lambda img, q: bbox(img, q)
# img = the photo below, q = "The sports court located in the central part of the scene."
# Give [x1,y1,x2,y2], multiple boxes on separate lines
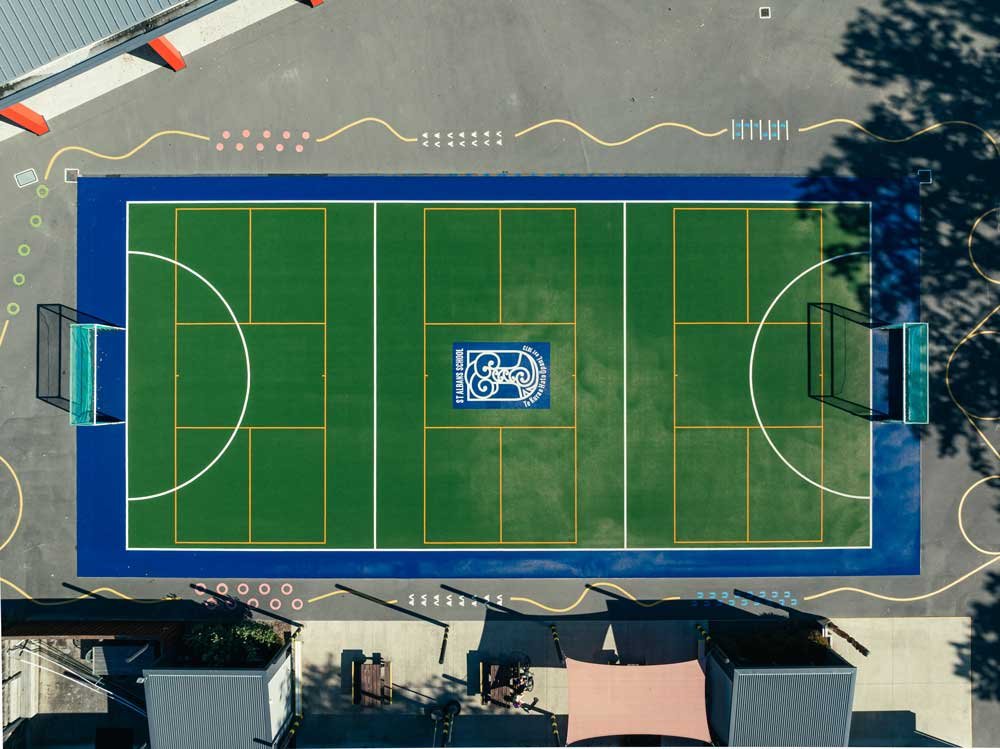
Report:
[76,177,920,576]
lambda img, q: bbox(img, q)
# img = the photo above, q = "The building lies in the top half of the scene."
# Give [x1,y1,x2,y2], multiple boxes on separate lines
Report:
[0,0,243,135]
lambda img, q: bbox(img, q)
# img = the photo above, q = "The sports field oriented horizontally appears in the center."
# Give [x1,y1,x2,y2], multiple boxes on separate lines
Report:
[128,203,871,548]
